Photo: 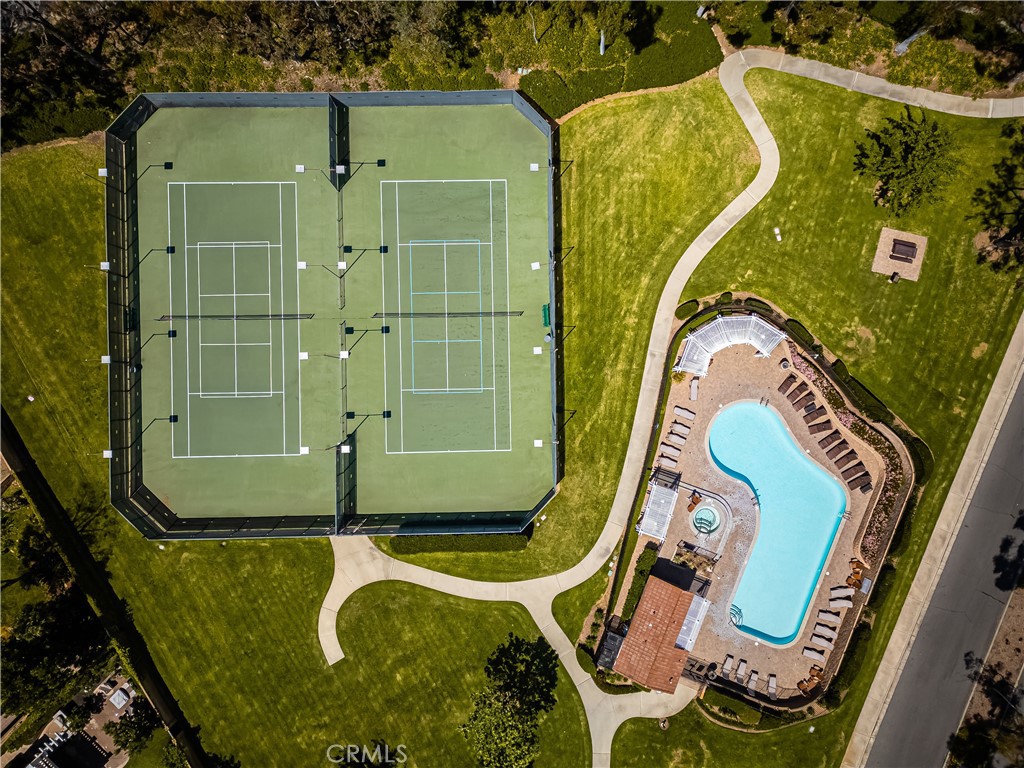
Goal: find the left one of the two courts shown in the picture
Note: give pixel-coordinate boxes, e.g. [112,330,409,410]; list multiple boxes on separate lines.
[124,105,344,533]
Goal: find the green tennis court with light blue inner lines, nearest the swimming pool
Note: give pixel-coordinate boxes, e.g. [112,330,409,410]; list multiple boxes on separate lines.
[336,104,554,529]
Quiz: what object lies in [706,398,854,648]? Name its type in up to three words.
swimming pool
